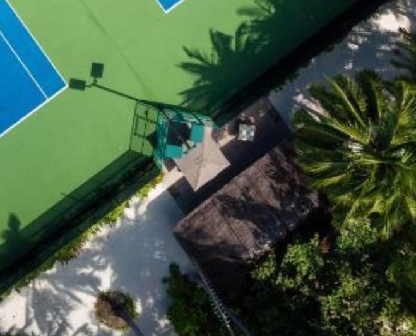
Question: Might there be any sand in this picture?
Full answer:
Yes, there is sand in the image.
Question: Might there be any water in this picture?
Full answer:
No, water can't be seen anywhere here.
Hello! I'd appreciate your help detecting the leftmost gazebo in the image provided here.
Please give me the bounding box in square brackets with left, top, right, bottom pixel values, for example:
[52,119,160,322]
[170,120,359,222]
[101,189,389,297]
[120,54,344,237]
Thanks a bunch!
[170,133,232,193]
